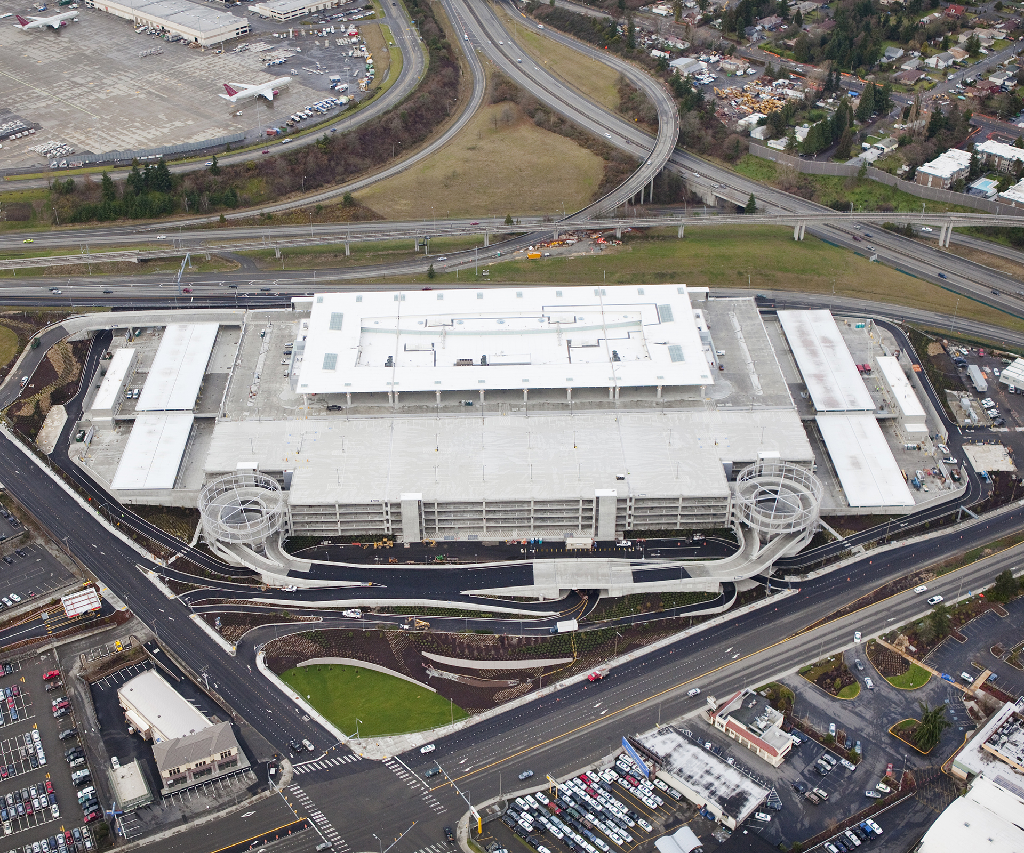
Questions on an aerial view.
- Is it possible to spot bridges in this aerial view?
Yes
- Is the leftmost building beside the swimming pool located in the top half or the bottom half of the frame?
top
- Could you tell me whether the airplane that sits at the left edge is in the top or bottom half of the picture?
top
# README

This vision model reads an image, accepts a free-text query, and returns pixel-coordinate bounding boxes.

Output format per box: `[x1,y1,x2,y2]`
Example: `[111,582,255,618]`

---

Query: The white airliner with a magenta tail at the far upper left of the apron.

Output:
[9,14,82,34]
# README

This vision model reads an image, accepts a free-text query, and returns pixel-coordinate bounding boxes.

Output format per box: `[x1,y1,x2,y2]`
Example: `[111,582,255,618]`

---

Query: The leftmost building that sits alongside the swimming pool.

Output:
[914,148,971,191]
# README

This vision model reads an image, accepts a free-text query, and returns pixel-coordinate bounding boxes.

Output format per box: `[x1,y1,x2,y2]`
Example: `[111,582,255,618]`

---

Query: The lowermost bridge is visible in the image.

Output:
[289,557,721,597]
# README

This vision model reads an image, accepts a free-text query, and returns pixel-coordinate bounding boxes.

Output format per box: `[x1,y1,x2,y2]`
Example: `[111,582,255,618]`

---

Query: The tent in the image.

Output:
[654,825,703,853]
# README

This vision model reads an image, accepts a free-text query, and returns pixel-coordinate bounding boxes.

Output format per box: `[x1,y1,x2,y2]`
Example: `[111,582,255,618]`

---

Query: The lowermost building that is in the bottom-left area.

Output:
[110,761,154,820]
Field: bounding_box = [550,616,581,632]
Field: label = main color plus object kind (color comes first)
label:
white vehicle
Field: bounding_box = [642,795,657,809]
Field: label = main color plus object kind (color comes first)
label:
white car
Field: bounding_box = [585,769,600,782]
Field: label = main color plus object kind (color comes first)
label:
white vehicle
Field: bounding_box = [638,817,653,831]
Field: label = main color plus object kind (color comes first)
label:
white car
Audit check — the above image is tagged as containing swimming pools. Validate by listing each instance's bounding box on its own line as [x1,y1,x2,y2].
[970,177,1000,195]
